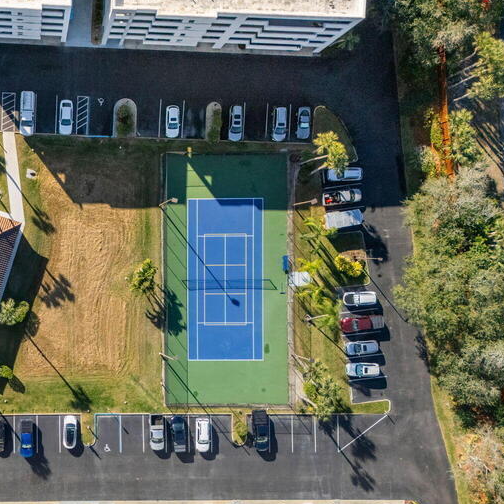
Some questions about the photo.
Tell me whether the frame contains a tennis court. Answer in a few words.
Yes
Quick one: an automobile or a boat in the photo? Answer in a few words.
automobile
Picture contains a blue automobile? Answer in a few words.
Yes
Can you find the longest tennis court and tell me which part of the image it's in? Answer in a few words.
center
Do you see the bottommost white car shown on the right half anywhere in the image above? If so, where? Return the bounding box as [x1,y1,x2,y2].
[345,362,380,378]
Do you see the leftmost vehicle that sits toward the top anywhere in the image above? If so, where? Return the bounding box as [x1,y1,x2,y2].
[19,90,36,136]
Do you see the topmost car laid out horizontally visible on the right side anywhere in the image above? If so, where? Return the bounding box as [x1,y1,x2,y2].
[326,167,362,183]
